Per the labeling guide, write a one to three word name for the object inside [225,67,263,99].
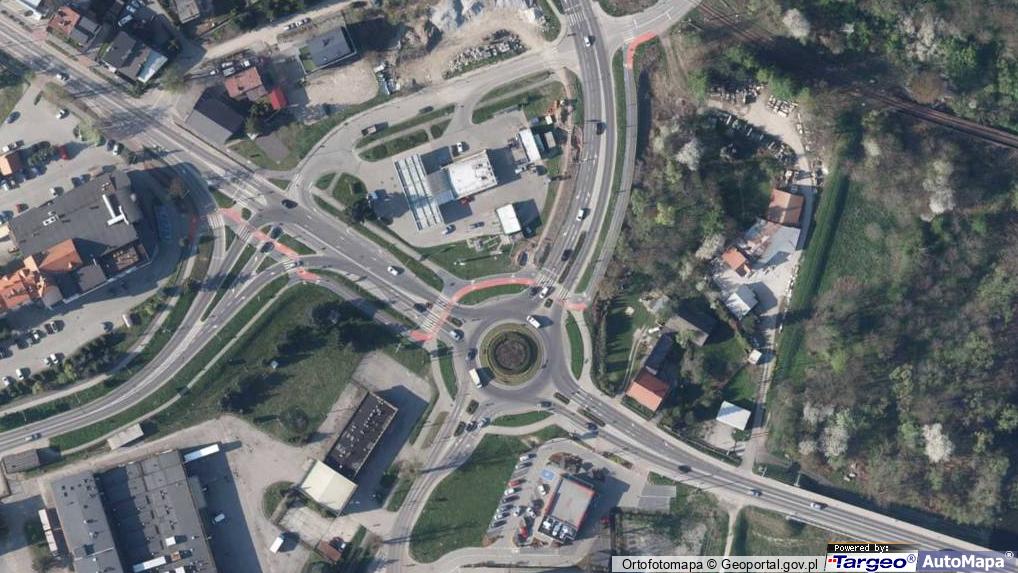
house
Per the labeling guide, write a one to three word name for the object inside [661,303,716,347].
barn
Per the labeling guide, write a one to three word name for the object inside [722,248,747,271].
shed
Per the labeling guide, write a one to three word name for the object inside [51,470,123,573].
building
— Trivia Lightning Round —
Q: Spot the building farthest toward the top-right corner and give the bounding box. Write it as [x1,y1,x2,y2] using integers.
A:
[766,188,803,225]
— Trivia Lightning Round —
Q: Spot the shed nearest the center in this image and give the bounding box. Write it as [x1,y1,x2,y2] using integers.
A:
[496,204,521,234]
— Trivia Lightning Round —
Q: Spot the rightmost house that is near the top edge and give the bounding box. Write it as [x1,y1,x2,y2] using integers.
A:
[299,27,357,76]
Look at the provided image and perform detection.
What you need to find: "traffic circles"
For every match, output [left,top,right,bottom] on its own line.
[457,298,567,409]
